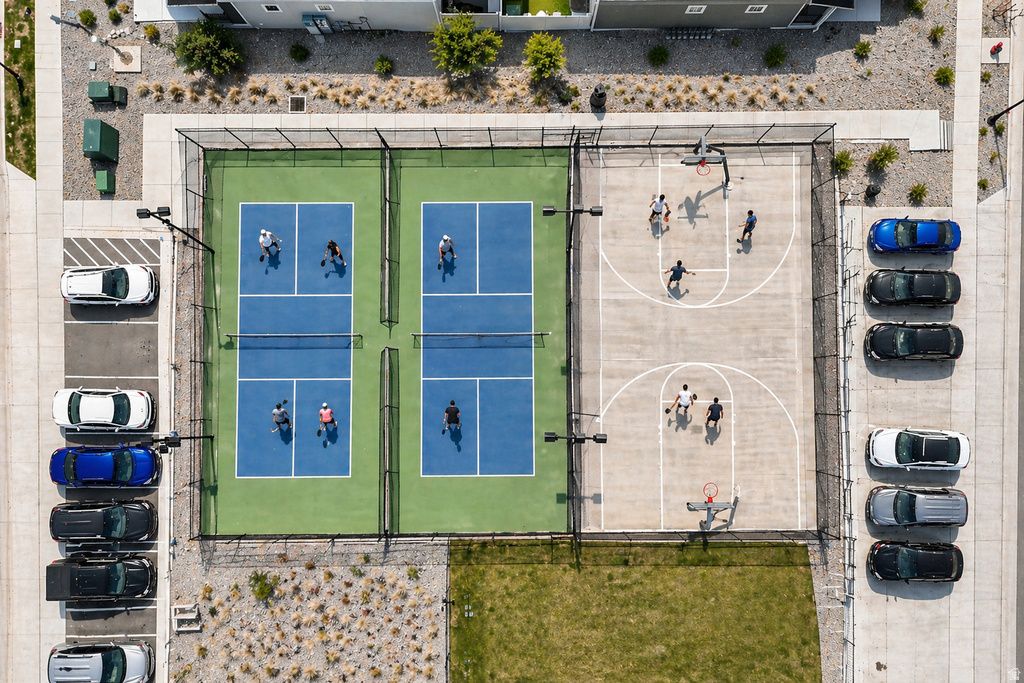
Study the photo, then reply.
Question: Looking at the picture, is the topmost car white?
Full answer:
No, the topmost car is blue.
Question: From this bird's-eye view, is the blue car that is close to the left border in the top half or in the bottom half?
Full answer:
Seen from above, the blue car that is close to the left border lies in the bottom half of the view.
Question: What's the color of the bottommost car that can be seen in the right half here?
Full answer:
The color of the bottommost car that can be seen in the right half is black.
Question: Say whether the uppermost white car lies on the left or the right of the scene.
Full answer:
You can find the uppermost white car on the left side of the picture.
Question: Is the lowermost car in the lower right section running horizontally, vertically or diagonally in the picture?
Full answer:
The lowermost car in the lower right section is laid out horizontally.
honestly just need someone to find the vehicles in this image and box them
[866,426,972,473]
[863,318,964,365]
[48,498,159,546]
[45,641,156,683]
[45,555,159,604]
[53,386,158,433]
[866,538,966,587]
[49,443,163,490]
[865,483,970,531]
[863,263,962,310]
[867,213,962,257]
[59,261,161,308]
